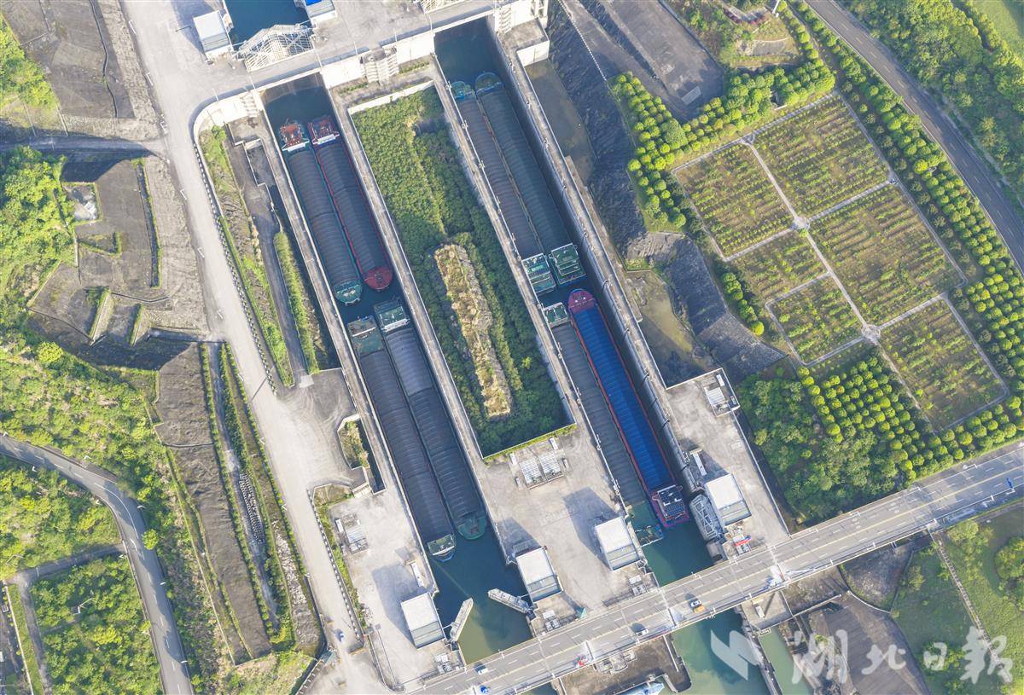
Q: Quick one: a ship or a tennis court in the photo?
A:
ship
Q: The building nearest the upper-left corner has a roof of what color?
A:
white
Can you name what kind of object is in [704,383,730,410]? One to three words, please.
building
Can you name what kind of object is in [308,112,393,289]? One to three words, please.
ship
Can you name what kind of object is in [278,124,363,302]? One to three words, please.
ship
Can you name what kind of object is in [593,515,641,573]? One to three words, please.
building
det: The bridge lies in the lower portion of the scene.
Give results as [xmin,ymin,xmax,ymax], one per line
[394,441,1024,695]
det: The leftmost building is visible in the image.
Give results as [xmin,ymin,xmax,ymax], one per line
[188,0,231,51]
